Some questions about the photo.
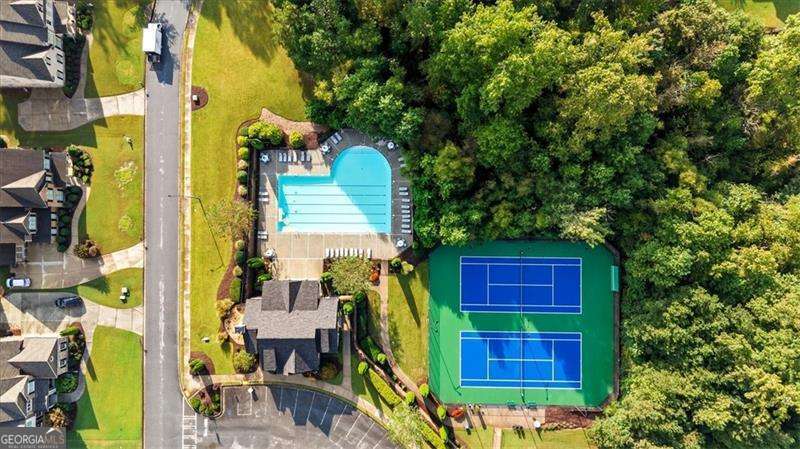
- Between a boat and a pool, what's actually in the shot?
pool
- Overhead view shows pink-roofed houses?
No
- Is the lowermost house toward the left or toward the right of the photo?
left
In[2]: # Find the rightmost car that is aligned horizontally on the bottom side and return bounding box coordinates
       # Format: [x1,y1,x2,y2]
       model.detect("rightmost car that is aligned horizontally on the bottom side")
[55,296,80,308]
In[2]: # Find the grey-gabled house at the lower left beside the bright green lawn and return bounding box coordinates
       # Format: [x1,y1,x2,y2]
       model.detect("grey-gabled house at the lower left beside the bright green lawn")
[0,336,67,449]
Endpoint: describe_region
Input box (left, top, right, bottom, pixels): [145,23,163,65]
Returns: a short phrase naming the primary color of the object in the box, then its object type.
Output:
white vehicle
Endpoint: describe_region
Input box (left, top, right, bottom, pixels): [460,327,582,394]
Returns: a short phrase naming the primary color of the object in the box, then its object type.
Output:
blue tennis court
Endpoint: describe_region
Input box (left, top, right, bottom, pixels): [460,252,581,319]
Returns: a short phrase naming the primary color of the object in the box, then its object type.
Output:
blue tennis court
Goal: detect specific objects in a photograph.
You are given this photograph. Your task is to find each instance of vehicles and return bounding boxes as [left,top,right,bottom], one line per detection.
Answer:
[4,277,28,289]
[55,296,80,308]
[145,23,163,65]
